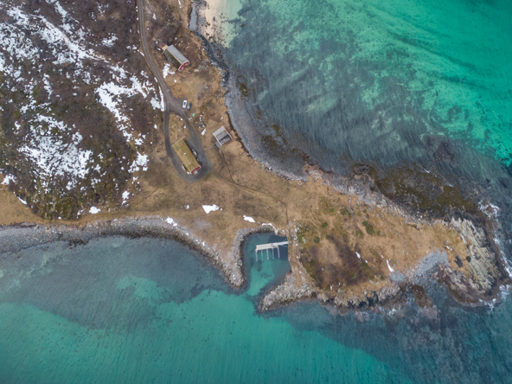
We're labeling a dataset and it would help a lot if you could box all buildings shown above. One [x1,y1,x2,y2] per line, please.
[165,46,189,70]
[214,127,231,145]
[173,139,202,173]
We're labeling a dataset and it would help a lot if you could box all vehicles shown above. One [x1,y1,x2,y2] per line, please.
[187,102,193,110]
[182,100,188,108]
